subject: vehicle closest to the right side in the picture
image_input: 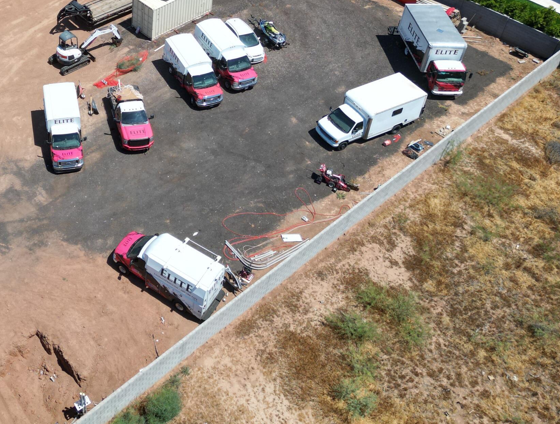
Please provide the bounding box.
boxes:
[397,4,475,97]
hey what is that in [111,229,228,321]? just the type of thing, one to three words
truck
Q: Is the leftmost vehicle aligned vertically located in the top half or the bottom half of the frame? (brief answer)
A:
top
